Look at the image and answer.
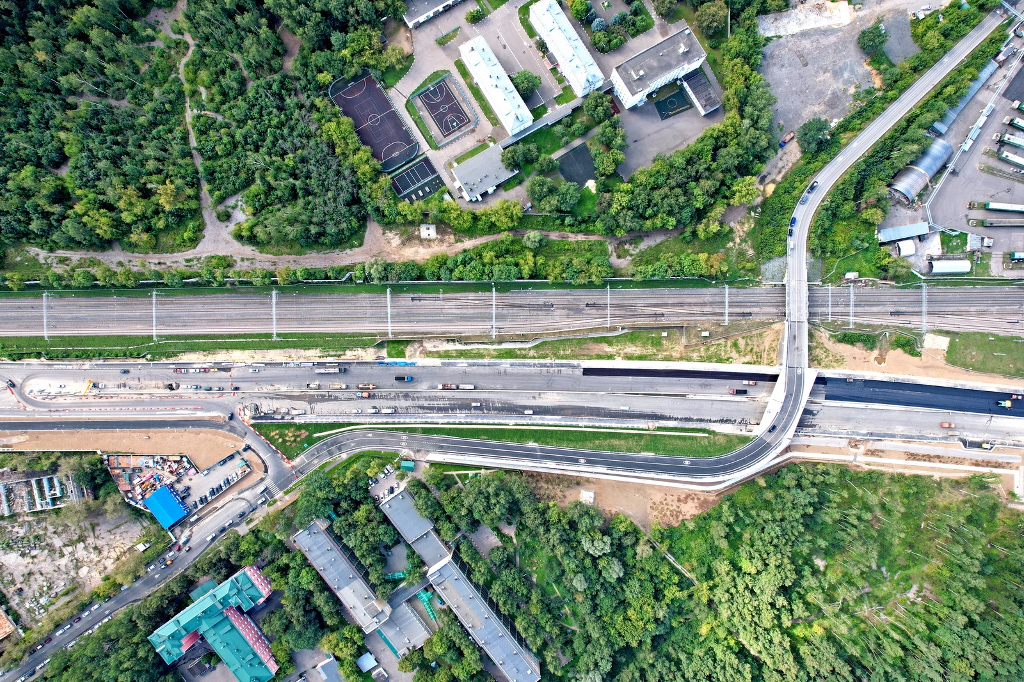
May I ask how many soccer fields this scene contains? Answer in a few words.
1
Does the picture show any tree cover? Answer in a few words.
Yes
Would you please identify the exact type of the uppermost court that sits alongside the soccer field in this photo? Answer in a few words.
basketball court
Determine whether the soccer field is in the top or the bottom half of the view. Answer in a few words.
top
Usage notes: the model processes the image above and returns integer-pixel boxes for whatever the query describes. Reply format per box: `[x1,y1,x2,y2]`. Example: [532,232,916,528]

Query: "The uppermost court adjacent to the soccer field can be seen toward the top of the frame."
[409,71,475,146]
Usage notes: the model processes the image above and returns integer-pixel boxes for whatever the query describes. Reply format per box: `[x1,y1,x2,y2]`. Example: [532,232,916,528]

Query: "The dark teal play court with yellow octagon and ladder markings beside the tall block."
[656,90,694,120]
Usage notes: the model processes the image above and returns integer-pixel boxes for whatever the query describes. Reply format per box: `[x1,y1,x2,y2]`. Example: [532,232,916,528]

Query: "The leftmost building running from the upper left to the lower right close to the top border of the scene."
[458,34,533,136]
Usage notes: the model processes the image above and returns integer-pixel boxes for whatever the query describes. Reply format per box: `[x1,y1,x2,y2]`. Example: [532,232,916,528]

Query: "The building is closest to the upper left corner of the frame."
[403,0,459,28]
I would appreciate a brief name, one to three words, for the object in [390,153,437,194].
sports court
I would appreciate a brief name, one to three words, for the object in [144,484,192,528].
building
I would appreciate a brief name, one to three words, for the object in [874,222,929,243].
shed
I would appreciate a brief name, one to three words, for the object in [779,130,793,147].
vehicle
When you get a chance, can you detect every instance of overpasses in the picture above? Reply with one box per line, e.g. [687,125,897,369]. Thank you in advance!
[744,279,823,461]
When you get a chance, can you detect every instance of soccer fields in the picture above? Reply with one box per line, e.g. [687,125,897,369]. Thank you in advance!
[327,65,418,170]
